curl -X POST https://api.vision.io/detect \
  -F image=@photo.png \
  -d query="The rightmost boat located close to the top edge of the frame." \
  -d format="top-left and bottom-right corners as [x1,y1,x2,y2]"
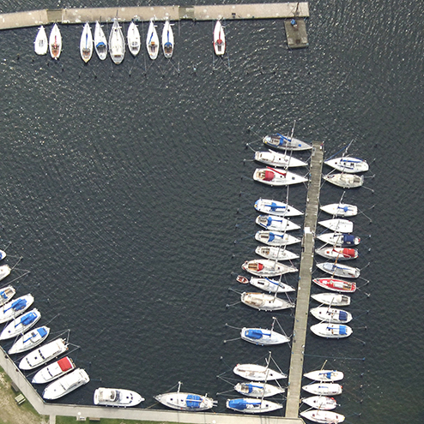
[209,17,226,58]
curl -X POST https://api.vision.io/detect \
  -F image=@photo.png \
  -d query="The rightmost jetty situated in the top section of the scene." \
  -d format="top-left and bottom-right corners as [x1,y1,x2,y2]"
[194,1,308,22]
